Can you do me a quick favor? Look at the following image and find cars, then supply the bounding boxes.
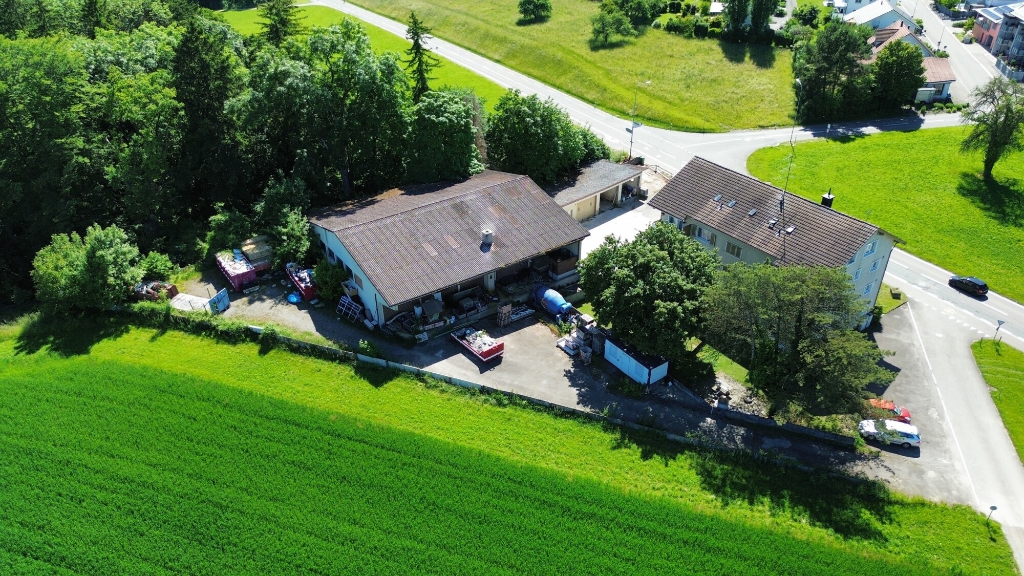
[862,400,915,422]
[860,415,922,447]
[946,271,995,295]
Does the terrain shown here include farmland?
Yes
